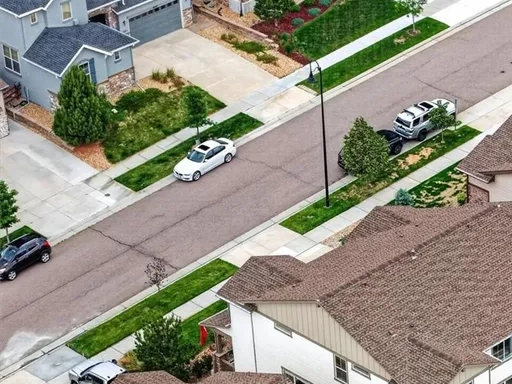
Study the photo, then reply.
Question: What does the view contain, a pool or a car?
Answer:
car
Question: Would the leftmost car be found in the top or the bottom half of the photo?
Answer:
bottom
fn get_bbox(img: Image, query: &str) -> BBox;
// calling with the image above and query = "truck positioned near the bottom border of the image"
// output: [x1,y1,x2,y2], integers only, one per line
[66,355,127,384]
